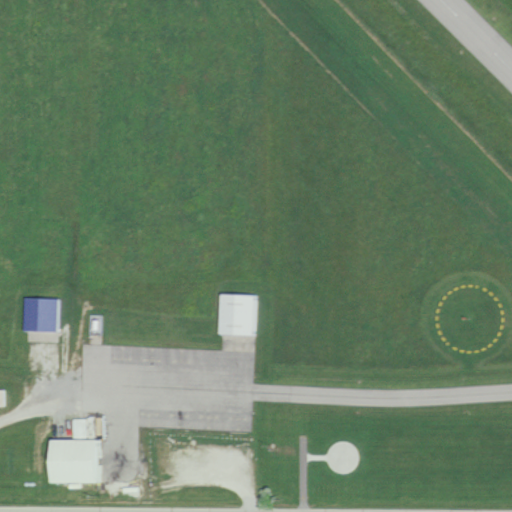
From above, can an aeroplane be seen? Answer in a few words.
No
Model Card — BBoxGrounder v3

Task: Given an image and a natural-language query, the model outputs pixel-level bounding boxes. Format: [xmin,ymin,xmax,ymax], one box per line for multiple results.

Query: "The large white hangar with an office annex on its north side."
[46,440,104,484]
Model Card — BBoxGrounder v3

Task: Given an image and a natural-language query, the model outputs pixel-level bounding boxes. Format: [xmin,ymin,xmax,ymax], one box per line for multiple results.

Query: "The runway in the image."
[420,0,512,92]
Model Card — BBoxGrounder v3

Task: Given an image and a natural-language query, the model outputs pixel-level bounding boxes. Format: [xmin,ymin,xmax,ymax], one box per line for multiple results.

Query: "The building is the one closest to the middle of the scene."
[218,294,258,335]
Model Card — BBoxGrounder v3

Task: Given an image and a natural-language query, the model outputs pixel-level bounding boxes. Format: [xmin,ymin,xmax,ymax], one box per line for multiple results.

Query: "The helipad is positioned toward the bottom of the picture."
[308,440,360,474]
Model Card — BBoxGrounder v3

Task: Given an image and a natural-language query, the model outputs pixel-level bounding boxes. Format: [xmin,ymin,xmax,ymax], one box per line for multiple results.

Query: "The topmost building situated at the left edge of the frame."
[23,297,61,332]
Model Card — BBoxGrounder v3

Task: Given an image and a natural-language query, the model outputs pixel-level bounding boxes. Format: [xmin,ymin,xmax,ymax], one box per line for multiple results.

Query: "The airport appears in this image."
[82,345,512,480]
